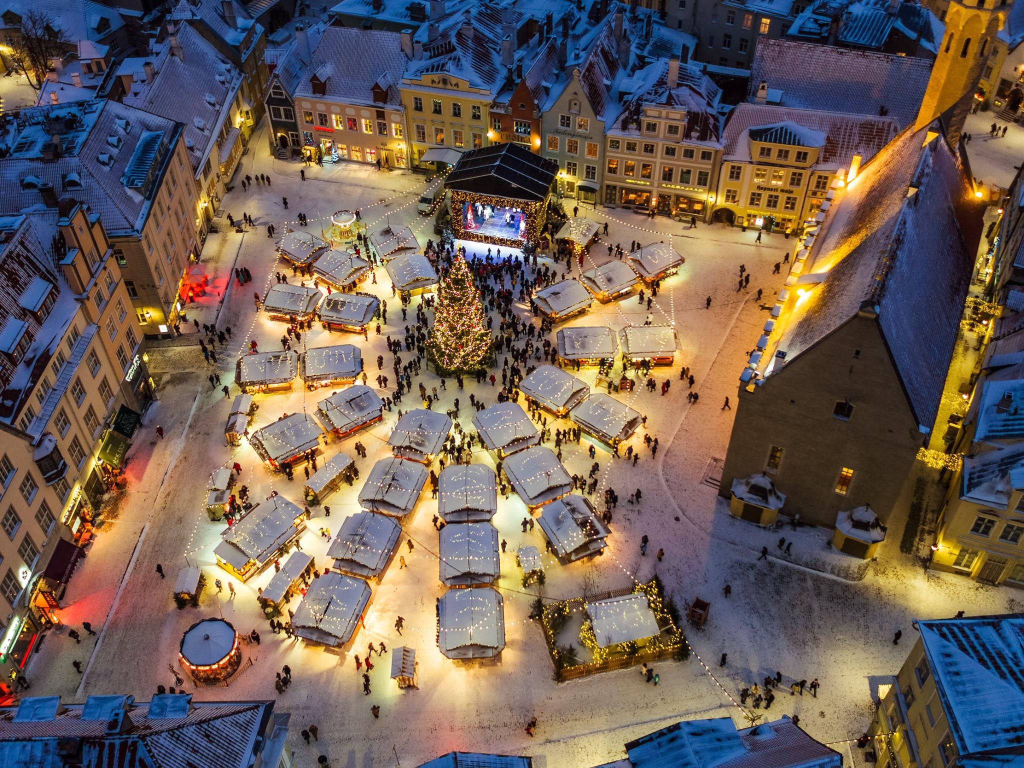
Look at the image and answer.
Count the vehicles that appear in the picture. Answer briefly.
1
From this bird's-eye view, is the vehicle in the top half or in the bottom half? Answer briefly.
top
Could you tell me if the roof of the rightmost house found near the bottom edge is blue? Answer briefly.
Yes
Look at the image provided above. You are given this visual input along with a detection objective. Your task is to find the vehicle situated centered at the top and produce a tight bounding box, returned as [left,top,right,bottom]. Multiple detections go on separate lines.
[416,182,441,217]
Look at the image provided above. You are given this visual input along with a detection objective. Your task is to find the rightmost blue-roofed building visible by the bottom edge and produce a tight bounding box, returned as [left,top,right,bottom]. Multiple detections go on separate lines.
[865,615,1024,768]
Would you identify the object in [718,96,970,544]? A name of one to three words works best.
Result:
building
